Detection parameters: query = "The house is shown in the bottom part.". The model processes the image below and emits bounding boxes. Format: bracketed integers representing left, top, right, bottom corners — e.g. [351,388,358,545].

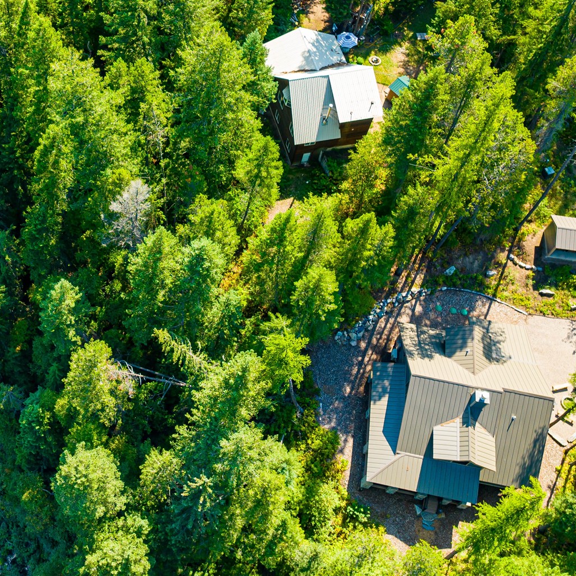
[362,316,558,510]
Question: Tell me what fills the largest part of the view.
trees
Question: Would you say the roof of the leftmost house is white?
Yes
